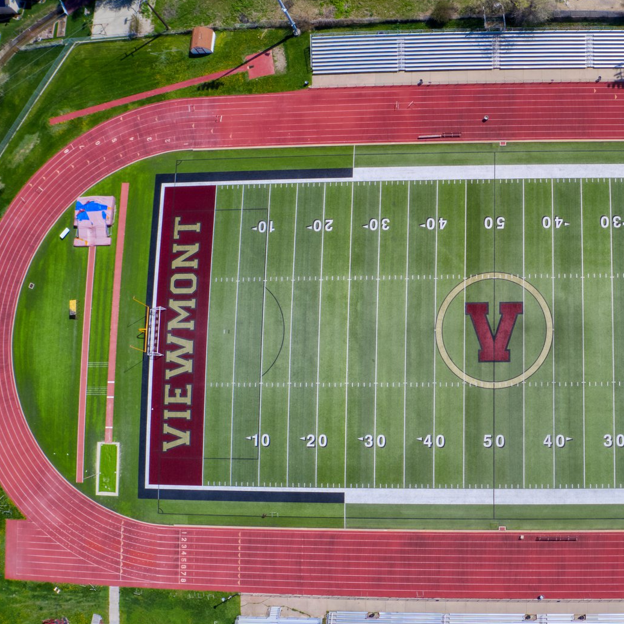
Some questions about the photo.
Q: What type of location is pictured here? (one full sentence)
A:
The picture captures a sports ground.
